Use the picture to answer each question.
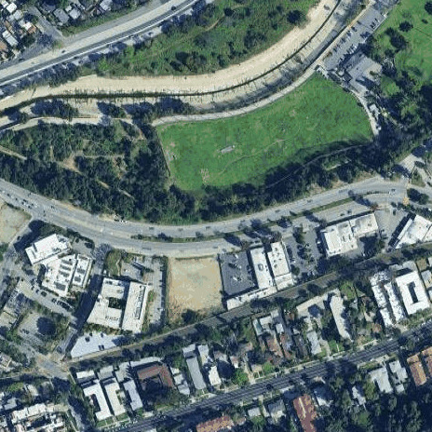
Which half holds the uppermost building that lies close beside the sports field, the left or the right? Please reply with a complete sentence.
It is on the right.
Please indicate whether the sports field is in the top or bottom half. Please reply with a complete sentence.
Seen from above, the sports field lies in the top half of the view.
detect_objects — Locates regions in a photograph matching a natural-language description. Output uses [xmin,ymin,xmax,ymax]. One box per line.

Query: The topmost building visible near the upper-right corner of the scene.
[346,52,383,84]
